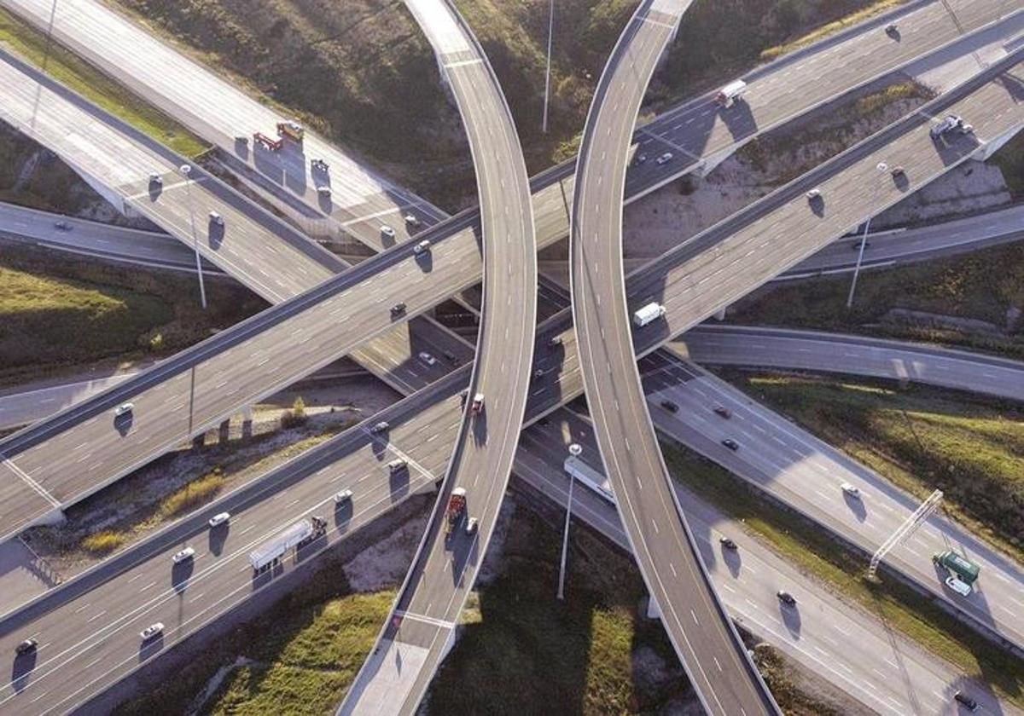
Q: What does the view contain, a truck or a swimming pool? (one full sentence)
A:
It is a truck that can be seen here.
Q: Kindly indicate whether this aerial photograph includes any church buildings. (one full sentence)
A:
No, the picture doesn't show any church building.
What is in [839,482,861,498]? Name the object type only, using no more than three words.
car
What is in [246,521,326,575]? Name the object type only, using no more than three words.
truck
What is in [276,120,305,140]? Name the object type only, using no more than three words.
vehicle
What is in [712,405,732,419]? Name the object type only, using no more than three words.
car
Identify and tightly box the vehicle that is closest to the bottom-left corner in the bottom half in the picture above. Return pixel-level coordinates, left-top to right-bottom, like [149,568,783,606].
[11,637,40,657]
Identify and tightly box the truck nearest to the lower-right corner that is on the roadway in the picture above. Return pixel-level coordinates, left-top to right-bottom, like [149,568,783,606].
[949,688,981,713]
